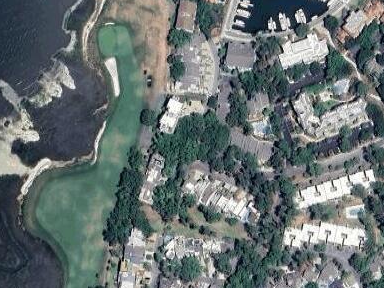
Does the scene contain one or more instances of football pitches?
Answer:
No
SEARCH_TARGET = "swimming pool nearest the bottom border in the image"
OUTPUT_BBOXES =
[346,204,364,219]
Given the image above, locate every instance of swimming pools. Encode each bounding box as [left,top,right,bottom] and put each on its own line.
[334,80,350,94]
[252,119,271,136]
[346,204,364,219]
